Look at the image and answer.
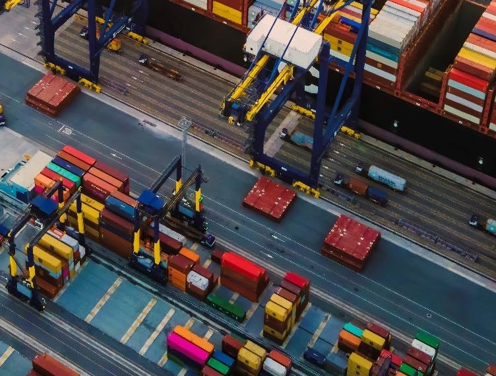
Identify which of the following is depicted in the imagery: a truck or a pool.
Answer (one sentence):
Looking from above, you can make out a truck.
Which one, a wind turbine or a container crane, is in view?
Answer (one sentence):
The one in the frame is a container crane.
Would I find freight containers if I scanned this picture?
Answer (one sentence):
Yes, a freight container appears in the view.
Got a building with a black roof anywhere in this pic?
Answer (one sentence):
No, there isn't any building with a black roof down there.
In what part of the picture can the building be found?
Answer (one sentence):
The building sits in the left section of the image.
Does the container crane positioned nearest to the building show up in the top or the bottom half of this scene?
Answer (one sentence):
It is in the bottom half that the container crane positioned nearest to the building appears.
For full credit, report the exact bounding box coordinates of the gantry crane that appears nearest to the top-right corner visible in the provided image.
[224,0,372,196]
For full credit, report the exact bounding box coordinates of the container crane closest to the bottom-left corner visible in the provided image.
[2,181,89,310]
